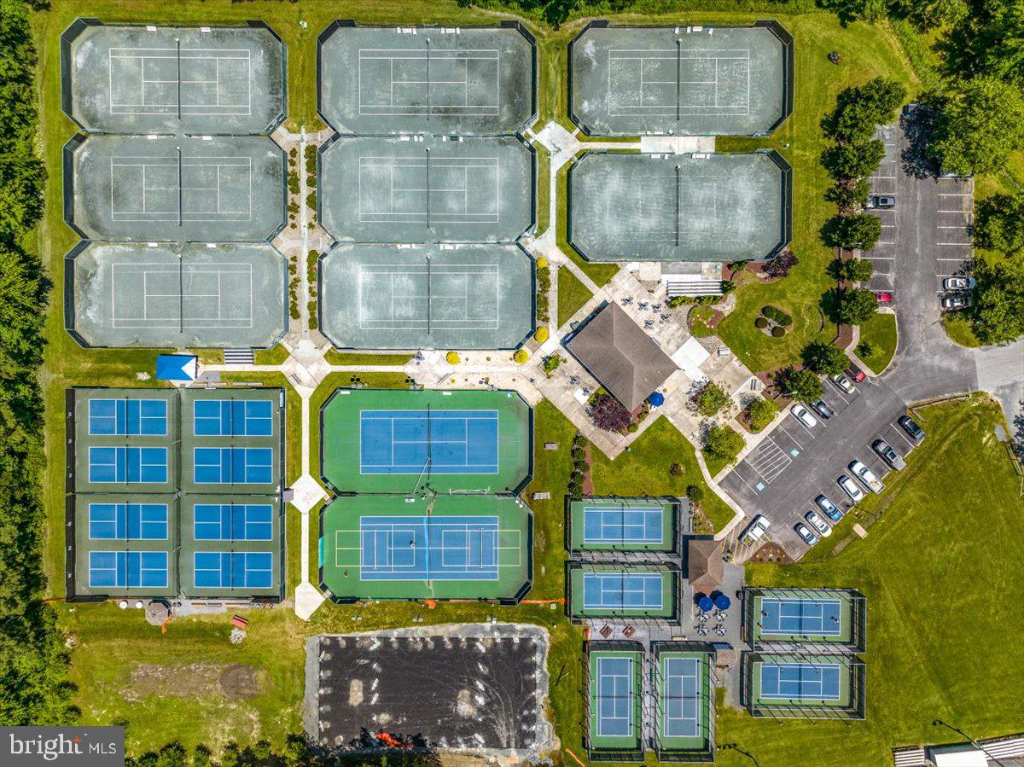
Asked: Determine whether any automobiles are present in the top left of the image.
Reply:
No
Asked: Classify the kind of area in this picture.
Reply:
sports ground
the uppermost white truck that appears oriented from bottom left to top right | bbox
[740,516,768,546]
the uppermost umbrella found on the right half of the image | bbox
[648,391,663,406]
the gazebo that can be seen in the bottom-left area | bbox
[146,599,175,625]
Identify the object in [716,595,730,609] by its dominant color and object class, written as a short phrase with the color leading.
blue umbrella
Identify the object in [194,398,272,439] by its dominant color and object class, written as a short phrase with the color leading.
blue sports court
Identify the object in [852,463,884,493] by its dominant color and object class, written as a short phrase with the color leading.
white truck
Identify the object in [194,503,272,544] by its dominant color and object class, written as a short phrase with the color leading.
blue sports court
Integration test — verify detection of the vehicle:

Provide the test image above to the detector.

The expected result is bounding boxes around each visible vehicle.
[874,293,892,304]
[791,403,816,428]
[865,195,894,209]
[874,440,906,471]
[841,360,865,384]
[852,463,884,493]
[944,276,974,289]
[832,372,857,396]
[816,496,841,520]
[811,399,834,421]
[838,476,863,500]
[793,522,817,546]
[941,296,971,309]
[740,516,768,546]
[896,415,922,440]
[805,511,831,536]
